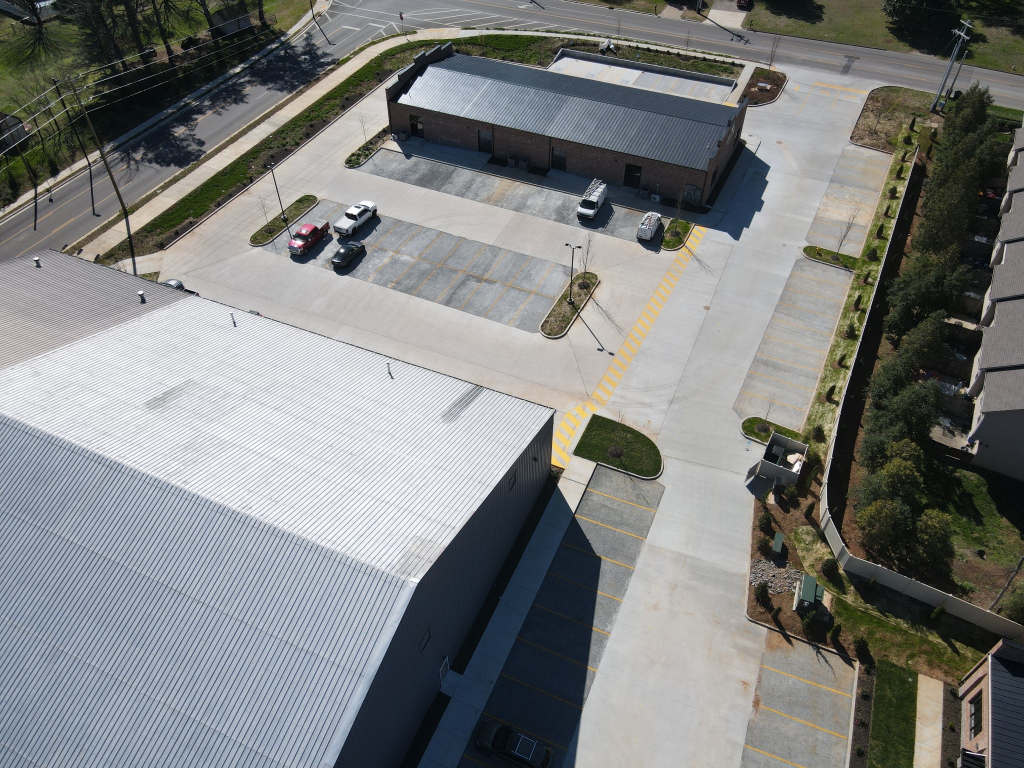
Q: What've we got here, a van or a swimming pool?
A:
van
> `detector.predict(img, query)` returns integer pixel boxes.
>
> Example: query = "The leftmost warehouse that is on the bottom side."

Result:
[0,297,557,768]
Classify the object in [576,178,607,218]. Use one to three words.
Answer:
van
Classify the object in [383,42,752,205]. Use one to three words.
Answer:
building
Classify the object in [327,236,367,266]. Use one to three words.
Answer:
car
